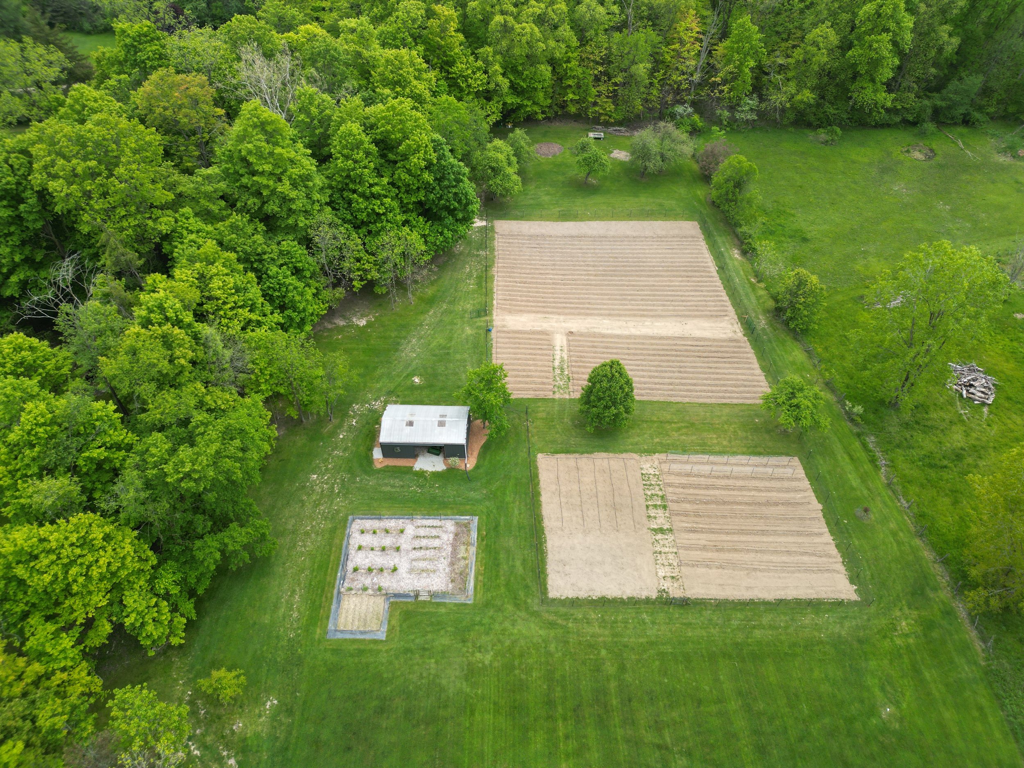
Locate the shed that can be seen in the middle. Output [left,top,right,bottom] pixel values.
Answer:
[379,403,469,463]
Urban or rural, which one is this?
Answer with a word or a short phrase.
rural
